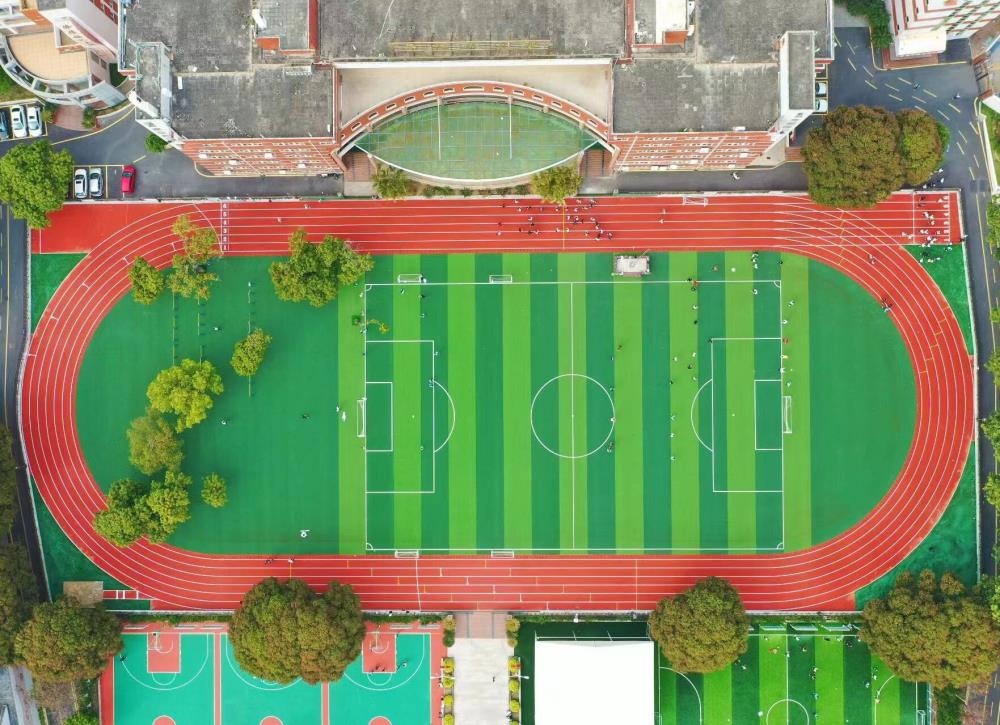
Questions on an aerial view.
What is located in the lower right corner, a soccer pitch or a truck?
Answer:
soccer pitch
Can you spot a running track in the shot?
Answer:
Yes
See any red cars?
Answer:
Yes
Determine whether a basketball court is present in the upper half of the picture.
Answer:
No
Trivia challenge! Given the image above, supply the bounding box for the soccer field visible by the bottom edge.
[659,624,928,725]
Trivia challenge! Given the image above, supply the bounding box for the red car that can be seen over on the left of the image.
[119,163,137,192]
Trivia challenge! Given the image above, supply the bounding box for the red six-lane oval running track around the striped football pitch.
[21,192,976,612]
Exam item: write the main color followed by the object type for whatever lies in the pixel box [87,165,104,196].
white car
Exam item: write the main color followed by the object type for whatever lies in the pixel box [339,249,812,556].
green soccer field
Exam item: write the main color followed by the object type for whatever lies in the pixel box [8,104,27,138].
white car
